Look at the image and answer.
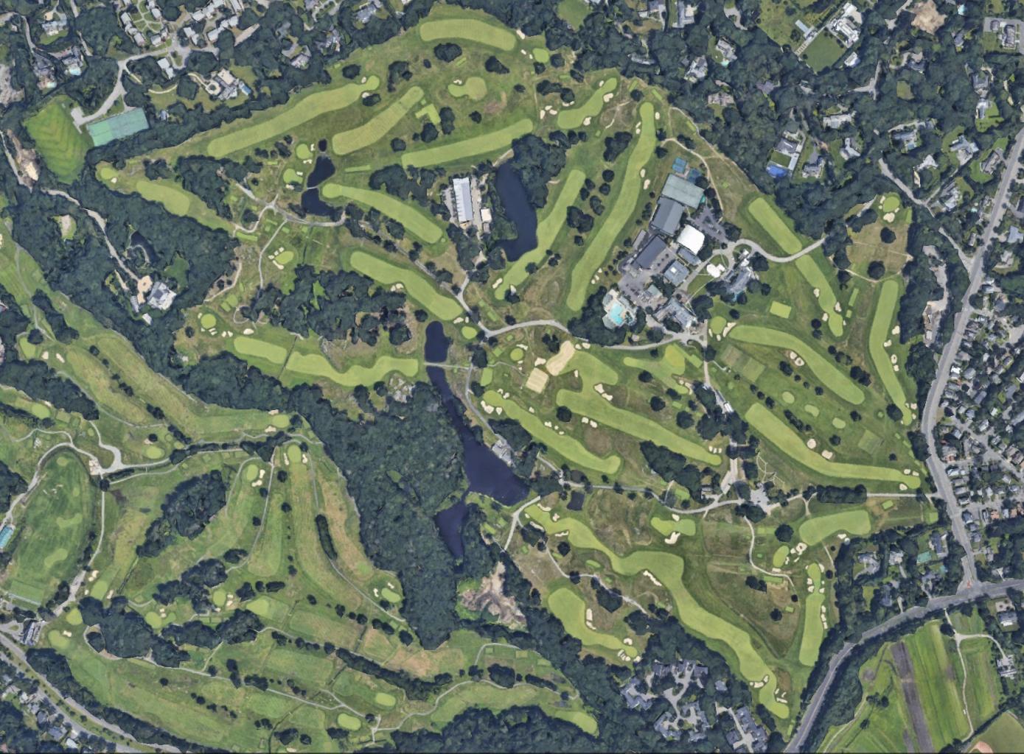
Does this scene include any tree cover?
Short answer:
Yes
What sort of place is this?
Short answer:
golf course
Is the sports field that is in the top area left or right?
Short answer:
left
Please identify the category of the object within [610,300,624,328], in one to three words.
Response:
swimming pool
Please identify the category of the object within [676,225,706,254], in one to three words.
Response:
building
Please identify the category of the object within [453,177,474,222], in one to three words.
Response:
shed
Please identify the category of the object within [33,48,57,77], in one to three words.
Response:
house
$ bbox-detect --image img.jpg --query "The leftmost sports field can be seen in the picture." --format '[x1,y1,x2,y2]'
[24,95,93,182]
